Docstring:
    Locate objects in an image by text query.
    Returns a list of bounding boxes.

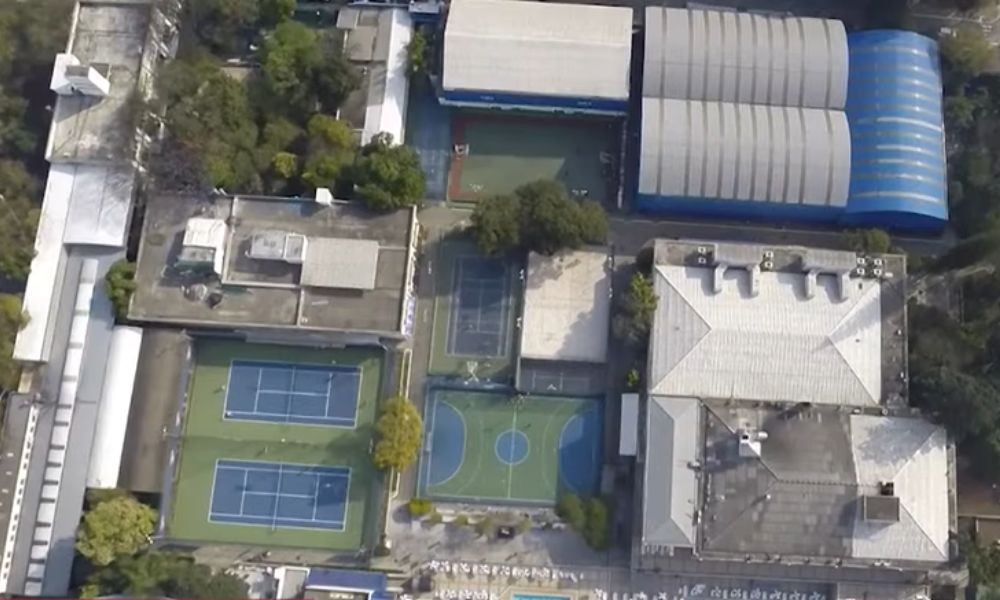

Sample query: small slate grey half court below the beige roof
[517,350,605,391]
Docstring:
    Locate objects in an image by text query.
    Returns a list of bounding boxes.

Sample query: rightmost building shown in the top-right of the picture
[833,29,949,232]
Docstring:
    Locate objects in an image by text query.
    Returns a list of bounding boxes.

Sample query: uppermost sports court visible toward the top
[446,111,621,212]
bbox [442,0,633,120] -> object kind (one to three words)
building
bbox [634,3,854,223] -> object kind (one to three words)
building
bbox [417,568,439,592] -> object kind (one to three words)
umbrella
